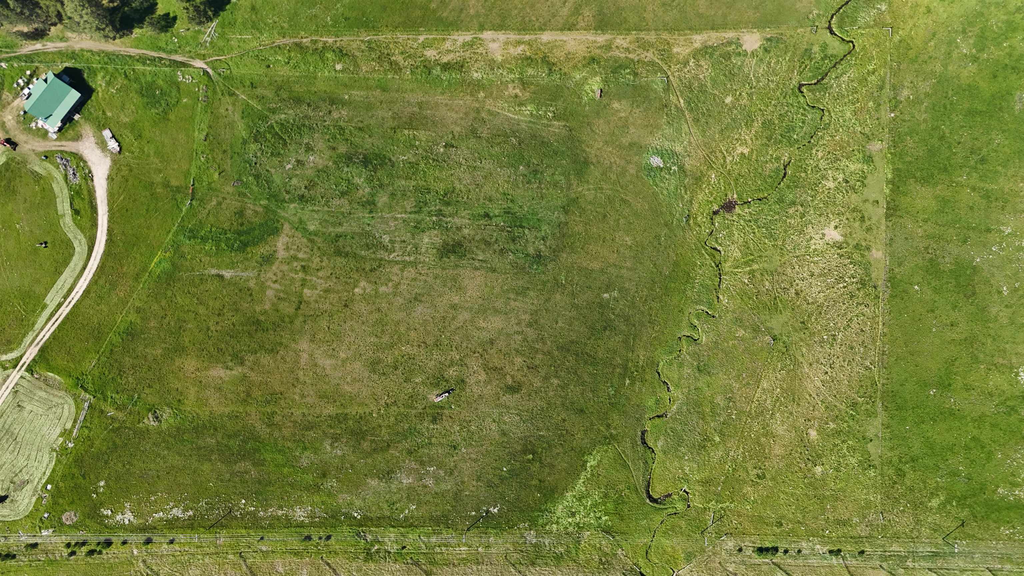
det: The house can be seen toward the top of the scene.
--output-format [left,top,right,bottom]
[24,71,83,131]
